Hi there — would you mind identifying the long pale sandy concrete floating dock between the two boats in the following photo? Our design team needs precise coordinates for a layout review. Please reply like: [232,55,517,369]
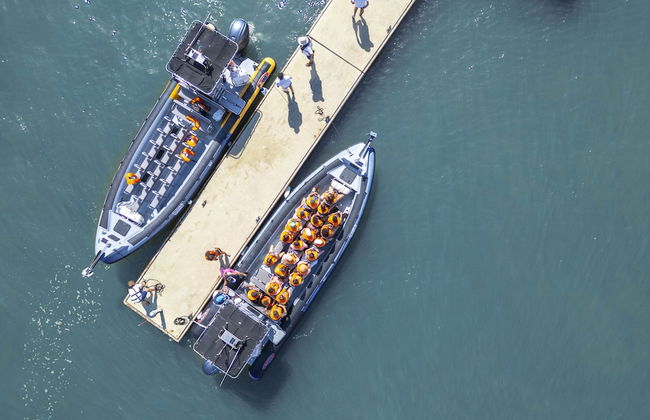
[122,0,416,341]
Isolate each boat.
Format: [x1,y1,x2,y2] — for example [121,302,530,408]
[79,9,277,278]
[189,131,381,389]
